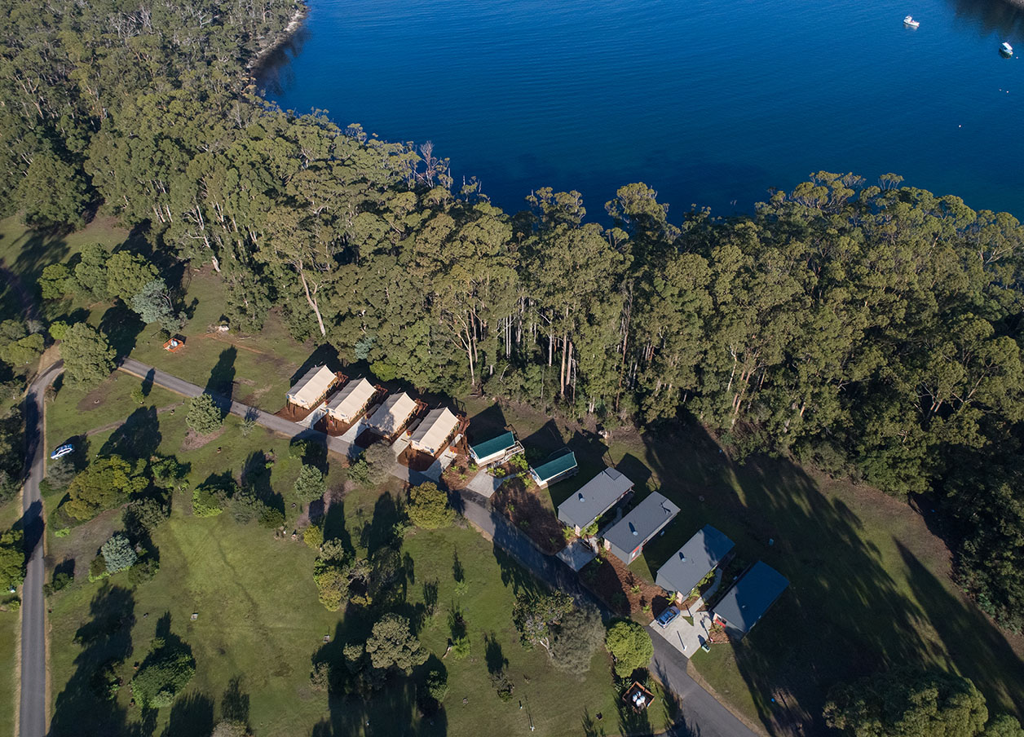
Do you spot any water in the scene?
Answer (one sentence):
Yes, water shows up in the scene.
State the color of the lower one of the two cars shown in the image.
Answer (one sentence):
The lower one of the two cars is blue.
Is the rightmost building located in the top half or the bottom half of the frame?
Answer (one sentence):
The rightmost building is in the bottom half of the image.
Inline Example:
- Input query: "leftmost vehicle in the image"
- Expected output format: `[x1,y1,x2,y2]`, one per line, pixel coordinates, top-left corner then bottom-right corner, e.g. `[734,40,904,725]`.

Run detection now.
[48,443,76,459]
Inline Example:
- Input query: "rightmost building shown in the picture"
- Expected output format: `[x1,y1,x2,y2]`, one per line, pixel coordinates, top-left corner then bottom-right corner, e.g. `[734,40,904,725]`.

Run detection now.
[711,560,790,644]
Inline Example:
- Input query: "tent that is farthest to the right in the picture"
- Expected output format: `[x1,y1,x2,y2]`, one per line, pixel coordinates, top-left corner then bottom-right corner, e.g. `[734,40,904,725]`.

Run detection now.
[406,406,467,467]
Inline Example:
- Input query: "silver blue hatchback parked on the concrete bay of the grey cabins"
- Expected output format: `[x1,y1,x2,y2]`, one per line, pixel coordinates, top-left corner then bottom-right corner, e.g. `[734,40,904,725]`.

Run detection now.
[654,603,683,628]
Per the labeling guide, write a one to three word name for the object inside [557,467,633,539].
building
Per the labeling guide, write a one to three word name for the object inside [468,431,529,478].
building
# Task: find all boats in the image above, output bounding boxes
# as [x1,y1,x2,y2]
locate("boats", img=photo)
[998,42,1016,53]
[902,15,921,25]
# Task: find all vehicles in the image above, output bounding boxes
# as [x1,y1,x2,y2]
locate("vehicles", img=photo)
[48,443,76,459]
[654,603,683,628]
